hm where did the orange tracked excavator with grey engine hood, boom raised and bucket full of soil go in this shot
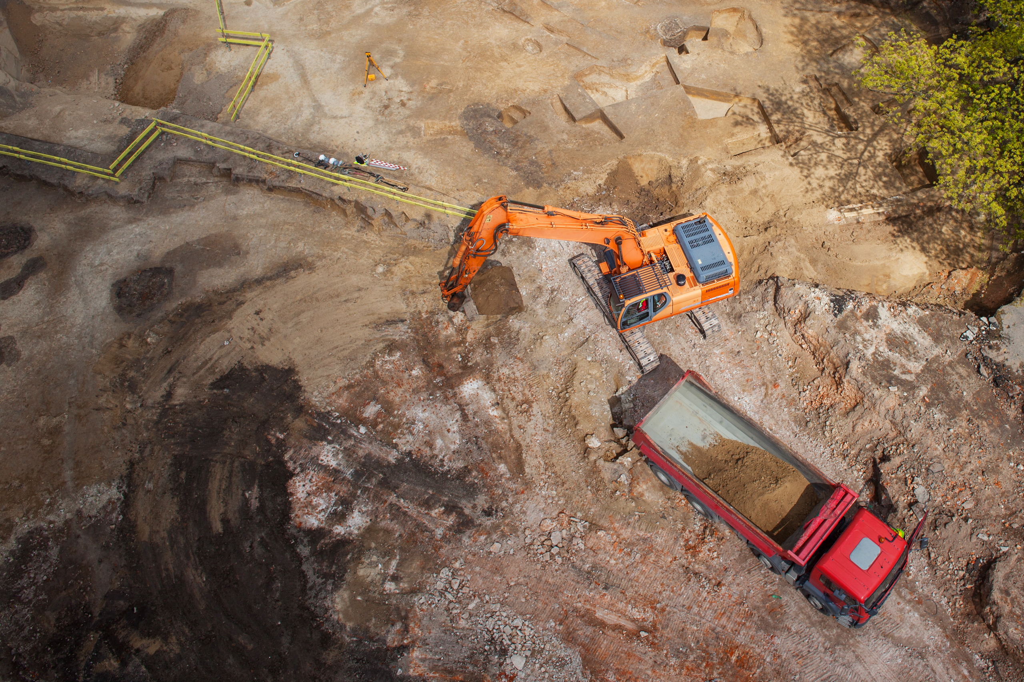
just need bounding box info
[438,191,745,376]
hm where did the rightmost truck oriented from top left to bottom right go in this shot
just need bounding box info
[633,367,935,635]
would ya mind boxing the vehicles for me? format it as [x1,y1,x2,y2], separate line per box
[438,191,745,376]
[633,367,935,635]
